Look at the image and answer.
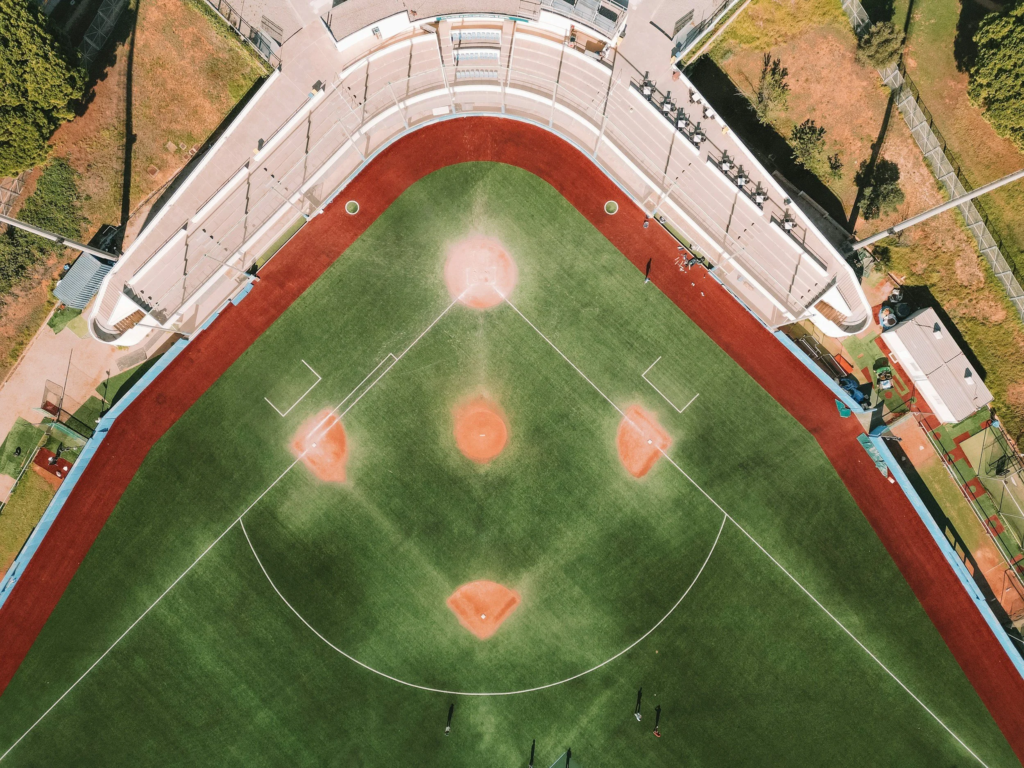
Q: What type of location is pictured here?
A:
sports ground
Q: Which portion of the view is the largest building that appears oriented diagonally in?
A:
right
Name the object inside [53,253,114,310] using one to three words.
shed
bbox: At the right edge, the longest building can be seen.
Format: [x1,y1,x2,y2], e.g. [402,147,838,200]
[883,307,994,423]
